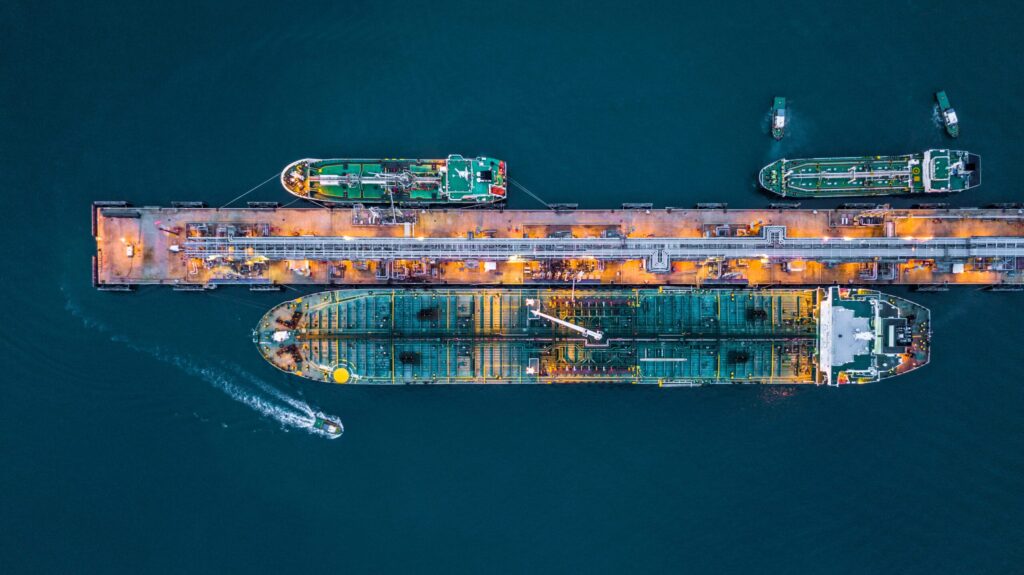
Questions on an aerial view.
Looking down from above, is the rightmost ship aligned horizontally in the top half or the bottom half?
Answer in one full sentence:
The top half of the photo is where the rightmost ship aligned horizontally is.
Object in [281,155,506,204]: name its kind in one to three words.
ship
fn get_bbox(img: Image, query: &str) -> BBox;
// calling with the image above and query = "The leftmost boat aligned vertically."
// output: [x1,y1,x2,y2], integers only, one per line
[772,96,787,140]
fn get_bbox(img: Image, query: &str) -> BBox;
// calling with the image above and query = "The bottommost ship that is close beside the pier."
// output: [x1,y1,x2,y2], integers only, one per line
[254,286,931,387]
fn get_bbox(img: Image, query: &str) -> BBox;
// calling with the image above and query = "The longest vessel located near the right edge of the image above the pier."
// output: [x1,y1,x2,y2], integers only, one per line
[758,150,982,198]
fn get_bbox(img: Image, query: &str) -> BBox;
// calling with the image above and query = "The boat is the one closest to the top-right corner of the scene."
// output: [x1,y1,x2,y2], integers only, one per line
[937,90,959,136]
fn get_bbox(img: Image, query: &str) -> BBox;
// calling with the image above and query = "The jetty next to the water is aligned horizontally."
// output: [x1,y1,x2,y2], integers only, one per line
[91,201,1024,291]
